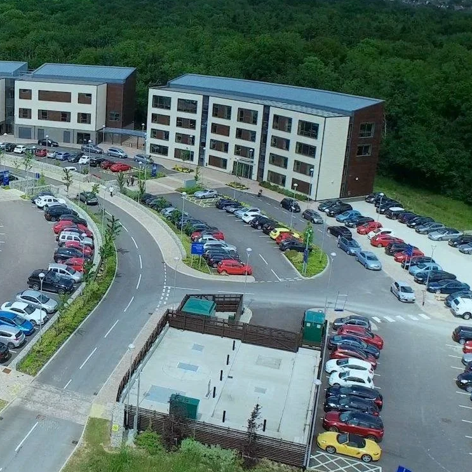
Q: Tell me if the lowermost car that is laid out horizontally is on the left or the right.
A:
right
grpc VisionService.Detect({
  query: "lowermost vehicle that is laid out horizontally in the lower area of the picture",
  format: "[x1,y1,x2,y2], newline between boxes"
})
[312,433,385,467]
